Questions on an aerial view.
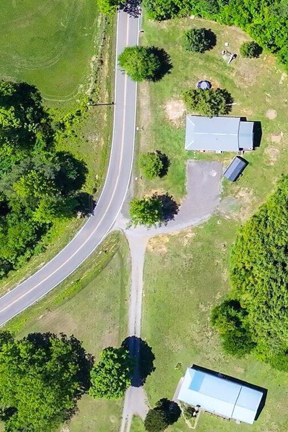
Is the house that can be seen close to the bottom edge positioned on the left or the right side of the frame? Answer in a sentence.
The house that can be seen close to the bottom edge is on the right side of the image.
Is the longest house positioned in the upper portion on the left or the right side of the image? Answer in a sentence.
You can find the longest house positioned in the upper portion on the right side of the picture.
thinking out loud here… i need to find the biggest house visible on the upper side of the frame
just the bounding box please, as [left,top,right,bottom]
[185,115,253,153]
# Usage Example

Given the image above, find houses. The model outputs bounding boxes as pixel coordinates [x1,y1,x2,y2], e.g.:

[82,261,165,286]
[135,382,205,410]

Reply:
[185,115,253,153]
[178,367,263,424]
